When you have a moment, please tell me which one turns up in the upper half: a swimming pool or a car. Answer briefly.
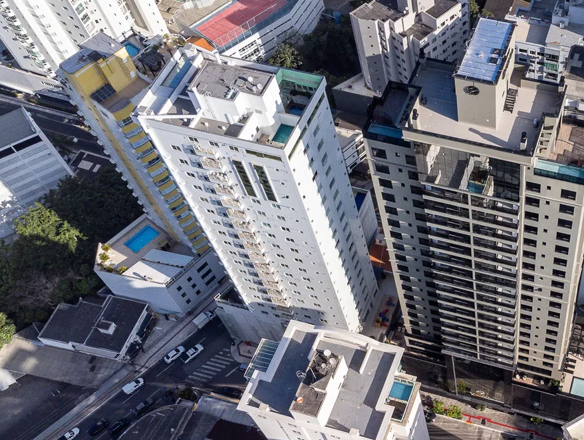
swimming pool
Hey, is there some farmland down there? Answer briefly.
No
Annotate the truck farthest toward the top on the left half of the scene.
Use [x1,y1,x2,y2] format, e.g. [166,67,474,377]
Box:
[187,307,217,331]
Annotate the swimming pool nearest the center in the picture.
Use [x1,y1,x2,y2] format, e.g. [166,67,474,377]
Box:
[270,124,297,145]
